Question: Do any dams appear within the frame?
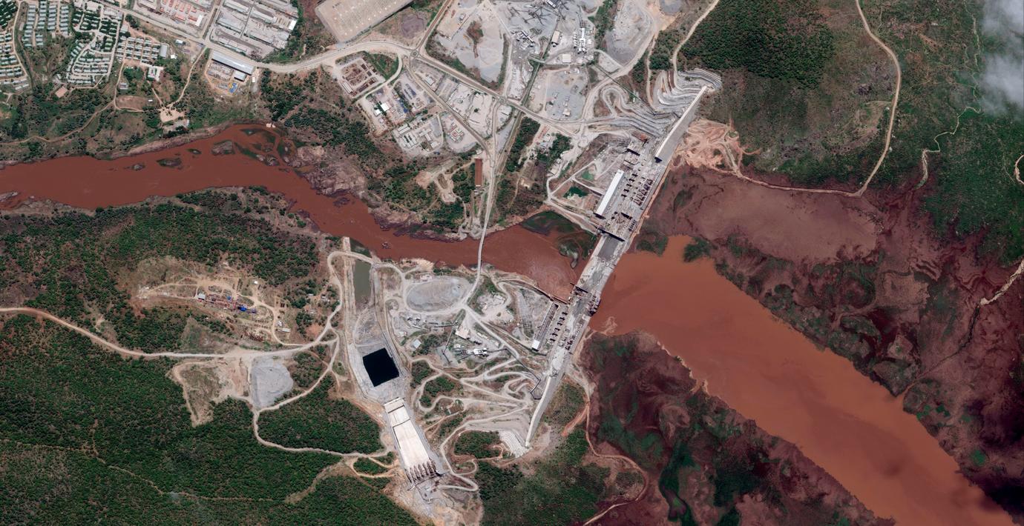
Yes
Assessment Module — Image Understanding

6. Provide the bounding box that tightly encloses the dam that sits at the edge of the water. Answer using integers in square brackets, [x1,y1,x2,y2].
[526,85,706,445]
